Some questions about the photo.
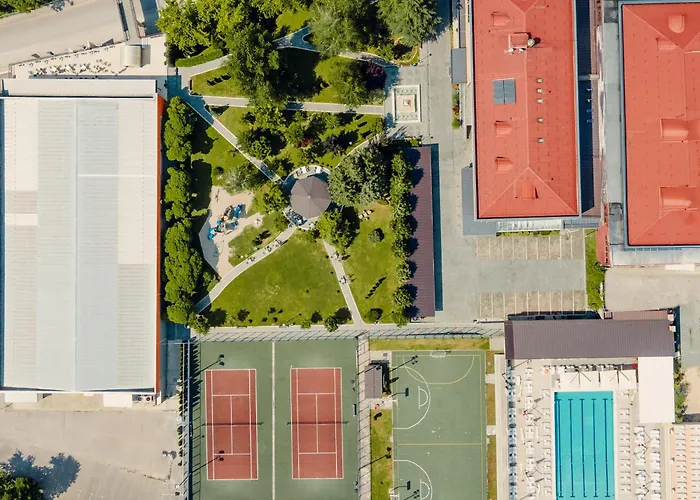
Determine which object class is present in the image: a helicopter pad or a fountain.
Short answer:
fountain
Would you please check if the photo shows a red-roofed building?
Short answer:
Yes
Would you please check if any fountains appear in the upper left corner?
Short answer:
No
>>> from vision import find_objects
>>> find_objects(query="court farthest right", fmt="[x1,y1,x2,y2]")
[392,351,488,500]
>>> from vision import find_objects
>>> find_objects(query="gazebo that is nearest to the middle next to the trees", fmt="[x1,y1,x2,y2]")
[289,176,331,219]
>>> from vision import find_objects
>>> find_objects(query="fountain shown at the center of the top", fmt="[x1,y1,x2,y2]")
[394,83,421,122]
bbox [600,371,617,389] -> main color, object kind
white umbrella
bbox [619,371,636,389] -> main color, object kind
white umbrella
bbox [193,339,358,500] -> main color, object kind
green tennis court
